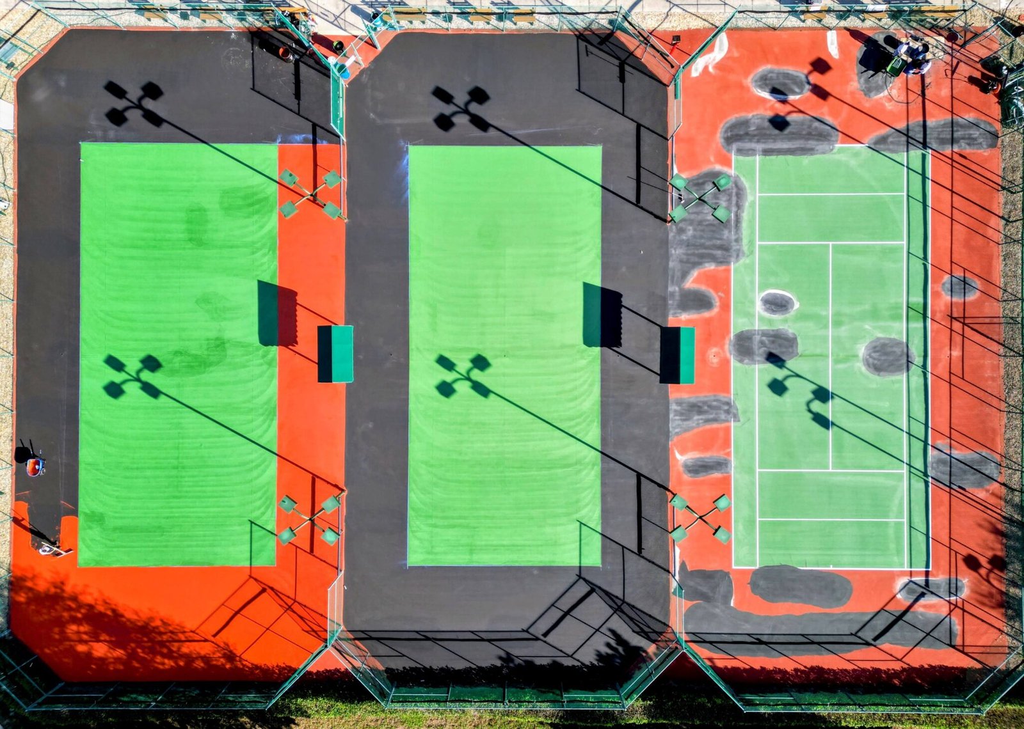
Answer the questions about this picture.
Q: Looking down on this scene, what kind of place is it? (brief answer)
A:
sports ground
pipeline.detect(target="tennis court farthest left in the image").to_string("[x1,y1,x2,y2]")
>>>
[8,25,346,686]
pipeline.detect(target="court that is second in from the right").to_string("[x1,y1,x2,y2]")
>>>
[343,29,671,686]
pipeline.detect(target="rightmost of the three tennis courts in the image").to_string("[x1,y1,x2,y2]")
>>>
[669,29,1004,687]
